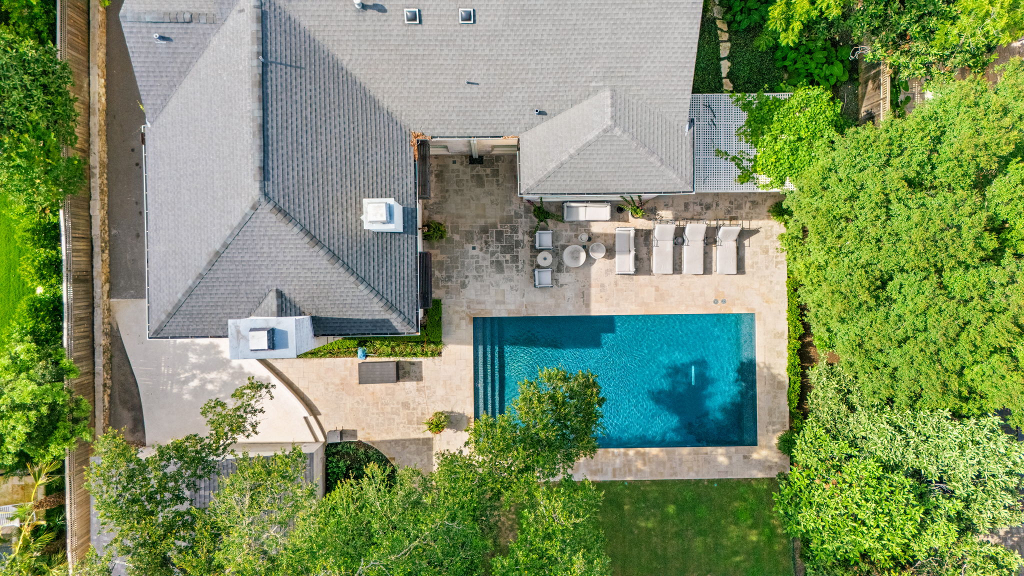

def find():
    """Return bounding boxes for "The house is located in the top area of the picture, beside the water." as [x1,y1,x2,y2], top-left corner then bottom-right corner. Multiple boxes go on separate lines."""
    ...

[118,0,703,358]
